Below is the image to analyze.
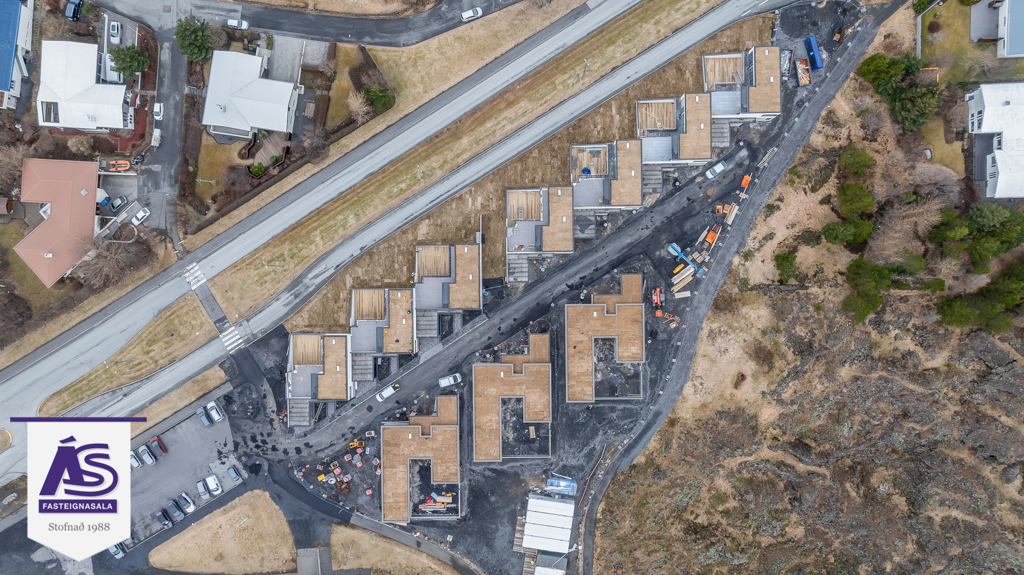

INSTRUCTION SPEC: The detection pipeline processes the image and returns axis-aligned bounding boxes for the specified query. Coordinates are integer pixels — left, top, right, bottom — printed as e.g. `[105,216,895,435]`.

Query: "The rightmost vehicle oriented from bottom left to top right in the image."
[704,159,730,179]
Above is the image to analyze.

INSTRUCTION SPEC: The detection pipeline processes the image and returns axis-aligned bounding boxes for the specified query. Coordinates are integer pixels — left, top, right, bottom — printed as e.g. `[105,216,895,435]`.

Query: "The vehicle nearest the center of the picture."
[437,373,463,388]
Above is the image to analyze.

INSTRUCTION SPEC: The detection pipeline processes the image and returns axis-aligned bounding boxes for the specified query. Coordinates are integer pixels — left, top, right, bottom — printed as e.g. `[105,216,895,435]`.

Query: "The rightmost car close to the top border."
[459,7,482,22]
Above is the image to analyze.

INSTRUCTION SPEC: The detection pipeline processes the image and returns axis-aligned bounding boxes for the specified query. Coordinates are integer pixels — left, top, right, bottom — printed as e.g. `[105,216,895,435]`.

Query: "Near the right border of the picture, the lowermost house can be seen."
[958,84,1024,200]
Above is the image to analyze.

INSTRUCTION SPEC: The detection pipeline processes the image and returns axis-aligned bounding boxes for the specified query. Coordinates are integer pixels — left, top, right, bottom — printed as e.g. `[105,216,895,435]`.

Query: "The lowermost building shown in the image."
[523,494,574,554]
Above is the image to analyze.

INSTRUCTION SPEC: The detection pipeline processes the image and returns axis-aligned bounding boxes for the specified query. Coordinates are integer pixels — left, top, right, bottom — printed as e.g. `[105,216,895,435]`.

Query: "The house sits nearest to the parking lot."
[287,334,355,442]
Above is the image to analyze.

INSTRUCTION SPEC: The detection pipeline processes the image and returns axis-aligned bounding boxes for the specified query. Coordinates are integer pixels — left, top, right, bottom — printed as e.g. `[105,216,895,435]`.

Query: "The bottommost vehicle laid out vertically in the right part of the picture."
[651,289,663,317]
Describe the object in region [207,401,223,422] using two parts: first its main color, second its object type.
white car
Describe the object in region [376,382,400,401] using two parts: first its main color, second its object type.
white vehicle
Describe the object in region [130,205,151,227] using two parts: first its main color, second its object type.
white car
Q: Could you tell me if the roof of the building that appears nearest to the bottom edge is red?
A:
No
